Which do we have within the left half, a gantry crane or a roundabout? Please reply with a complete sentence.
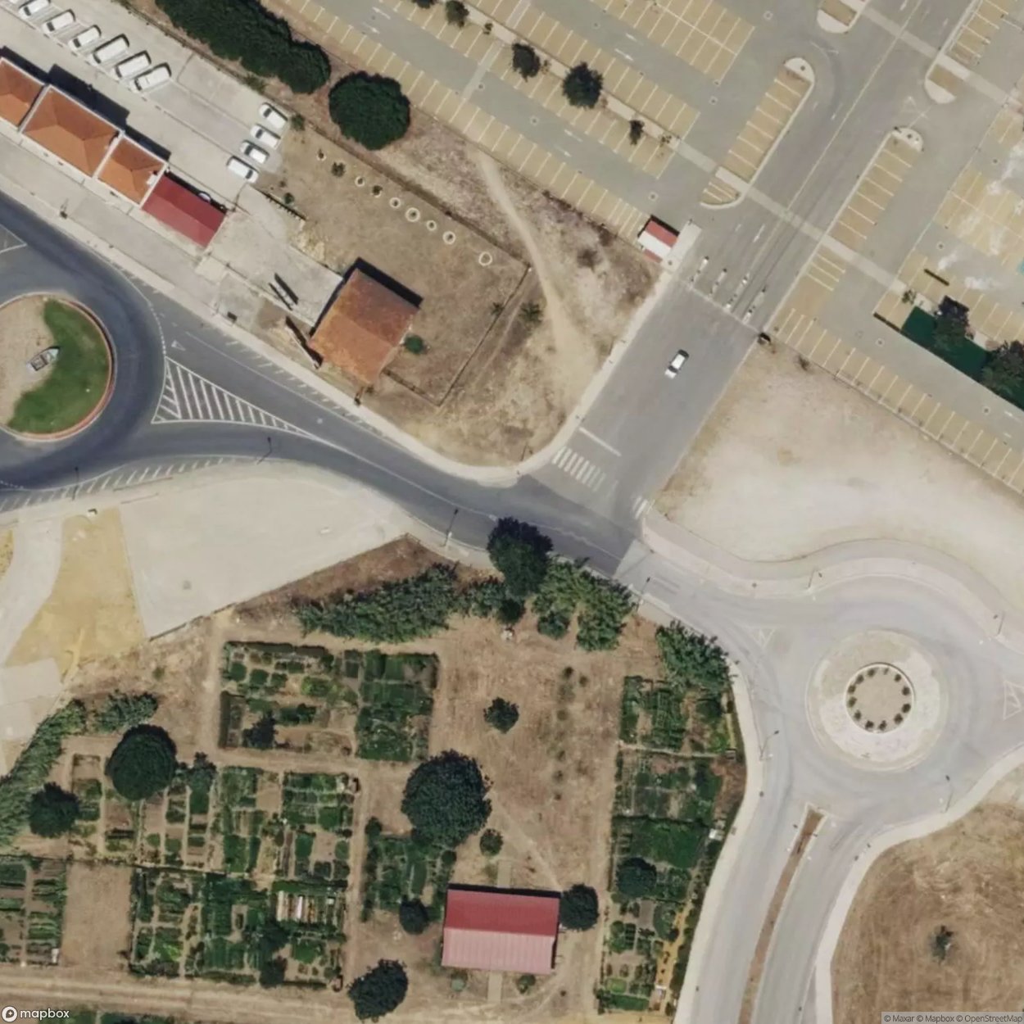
What appears within the left half is a roundabout.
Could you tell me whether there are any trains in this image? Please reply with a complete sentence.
No, there appears to be no train in this shot.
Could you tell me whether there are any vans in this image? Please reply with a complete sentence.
Yes, the picture does show a van.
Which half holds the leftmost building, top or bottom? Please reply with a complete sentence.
It is in the top half that the leftmost building appears.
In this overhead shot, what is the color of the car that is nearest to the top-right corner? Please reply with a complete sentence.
The car that is nearest to the top-right corner looks white in the image.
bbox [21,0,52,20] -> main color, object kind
white car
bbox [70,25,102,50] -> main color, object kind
white car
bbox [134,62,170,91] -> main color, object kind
white van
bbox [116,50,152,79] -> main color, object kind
white van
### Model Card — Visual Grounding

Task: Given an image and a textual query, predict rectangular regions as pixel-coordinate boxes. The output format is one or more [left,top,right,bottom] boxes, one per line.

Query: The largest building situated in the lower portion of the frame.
[441,890,560,975]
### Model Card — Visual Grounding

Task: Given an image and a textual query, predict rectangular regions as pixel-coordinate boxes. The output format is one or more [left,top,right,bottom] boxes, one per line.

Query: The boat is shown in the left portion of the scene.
[26,350,58,371]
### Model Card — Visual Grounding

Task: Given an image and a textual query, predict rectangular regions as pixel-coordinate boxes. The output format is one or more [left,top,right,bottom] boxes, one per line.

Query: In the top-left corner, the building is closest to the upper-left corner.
[0,55,43,127]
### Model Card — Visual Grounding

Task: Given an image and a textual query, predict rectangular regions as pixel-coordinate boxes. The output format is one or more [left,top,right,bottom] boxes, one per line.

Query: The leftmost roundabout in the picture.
[0,243,165,491]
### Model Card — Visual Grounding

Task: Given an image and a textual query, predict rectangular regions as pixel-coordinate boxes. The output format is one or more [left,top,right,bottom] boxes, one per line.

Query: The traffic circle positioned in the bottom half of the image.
[756,577,1001,822]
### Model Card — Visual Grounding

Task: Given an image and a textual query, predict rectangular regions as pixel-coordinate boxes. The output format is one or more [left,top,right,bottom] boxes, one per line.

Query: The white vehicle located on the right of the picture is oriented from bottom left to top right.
[665,350,688,379]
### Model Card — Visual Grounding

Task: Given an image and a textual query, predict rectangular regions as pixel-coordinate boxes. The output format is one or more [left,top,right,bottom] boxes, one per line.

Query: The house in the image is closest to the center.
[308,268,420,385]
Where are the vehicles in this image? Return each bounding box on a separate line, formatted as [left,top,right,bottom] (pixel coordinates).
[249,124,278,148]
[44,9,75,35]
[92,35,128,64]
[70,25,102,50]
[240,140,268,165]
[134,62,170,91]
[116,50,152,79]
[21,0,52,20]
[665,350,688,379]
[258,104,287,129]
[227,156,257,182]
